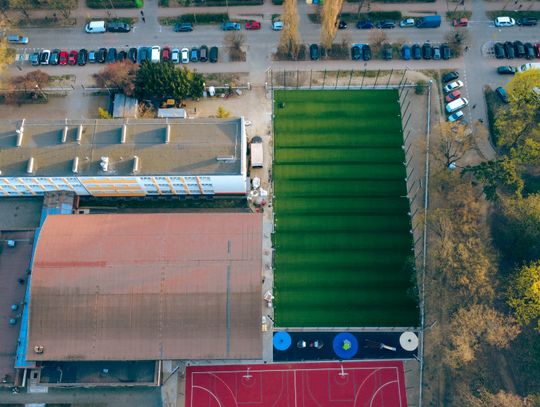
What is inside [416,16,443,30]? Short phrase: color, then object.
blue vehicle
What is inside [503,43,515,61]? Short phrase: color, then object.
black vehicle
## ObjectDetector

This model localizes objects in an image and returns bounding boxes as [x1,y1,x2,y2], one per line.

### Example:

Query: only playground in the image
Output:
[273,331,421,361]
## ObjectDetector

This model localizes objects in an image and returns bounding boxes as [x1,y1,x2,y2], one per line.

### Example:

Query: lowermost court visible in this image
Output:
[186,360,411,407]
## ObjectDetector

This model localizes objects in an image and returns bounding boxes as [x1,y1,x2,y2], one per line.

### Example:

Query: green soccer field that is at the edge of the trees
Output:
[271,85,420,332]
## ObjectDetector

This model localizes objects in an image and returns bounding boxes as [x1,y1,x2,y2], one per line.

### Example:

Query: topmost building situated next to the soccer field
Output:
[0,113,248,195]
